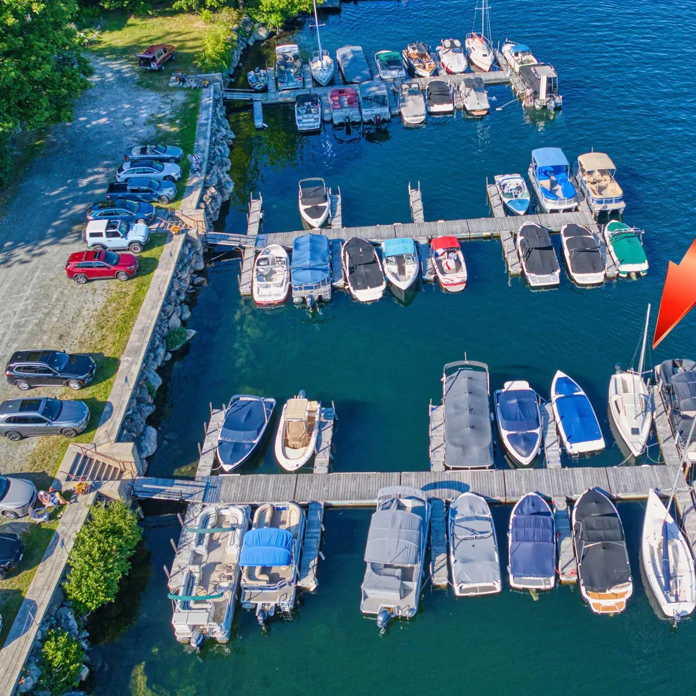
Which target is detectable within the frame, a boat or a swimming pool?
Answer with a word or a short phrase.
boat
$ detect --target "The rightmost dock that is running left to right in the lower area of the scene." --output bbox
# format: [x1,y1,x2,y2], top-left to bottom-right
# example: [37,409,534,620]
[201,468,685,510]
